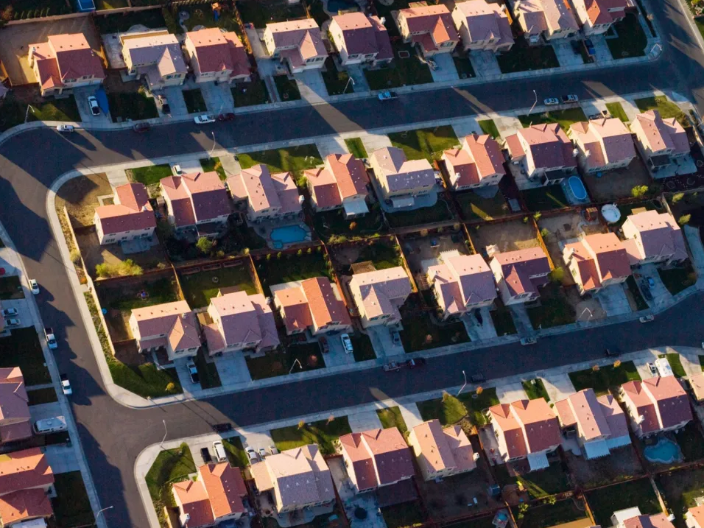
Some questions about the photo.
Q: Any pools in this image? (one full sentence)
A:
Yes, you can see a pool in this photo.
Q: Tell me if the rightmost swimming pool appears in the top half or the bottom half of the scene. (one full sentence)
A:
The bottom half of the photo is where the rightmost swimming pool is.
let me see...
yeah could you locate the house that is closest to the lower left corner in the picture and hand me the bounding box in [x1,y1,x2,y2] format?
[0,453,55,528]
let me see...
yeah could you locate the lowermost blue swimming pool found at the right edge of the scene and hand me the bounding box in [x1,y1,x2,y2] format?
[642,437,682,462]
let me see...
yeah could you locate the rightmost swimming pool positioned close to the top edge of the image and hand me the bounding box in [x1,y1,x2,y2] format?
[326,0,365,14]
